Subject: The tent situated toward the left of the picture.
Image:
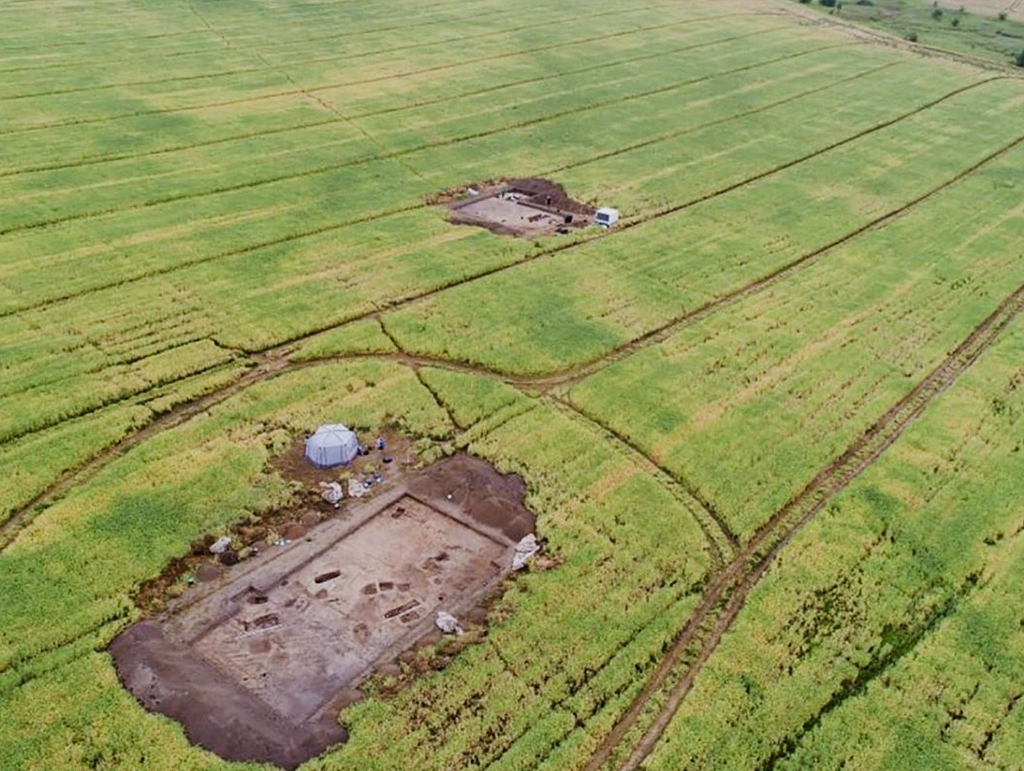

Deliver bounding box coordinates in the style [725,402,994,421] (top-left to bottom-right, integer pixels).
[303,425,360,471]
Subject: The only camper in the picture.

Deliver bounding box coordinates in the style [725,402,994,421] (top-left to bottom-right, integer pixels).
[599,205,624,224]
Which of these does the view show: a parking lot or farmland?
farmland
